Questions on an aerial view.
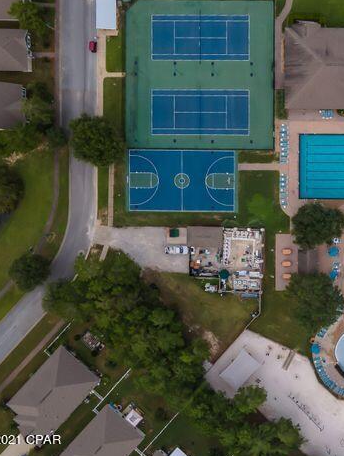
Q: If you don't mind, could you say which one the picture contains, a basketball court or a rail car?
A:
basketball court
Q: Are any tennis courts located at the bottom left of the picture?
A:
No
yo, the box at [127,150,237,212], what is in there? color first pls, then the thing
blue basketball court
